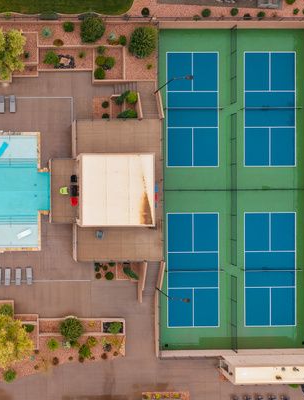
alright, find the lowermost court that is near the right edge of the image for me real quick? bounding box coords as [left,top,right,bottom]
[243,212,296,327]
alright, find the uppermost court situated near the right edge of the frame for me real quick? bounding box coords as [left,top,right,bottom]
[243,52,296,167]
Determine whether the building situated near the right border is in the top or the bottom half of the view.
bottom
